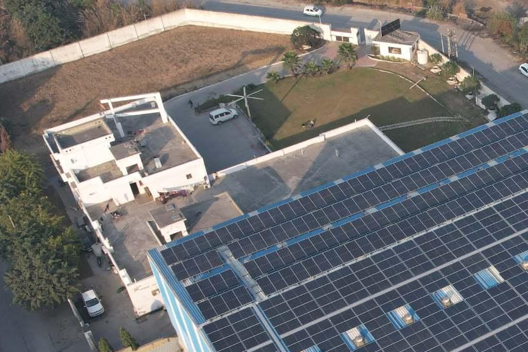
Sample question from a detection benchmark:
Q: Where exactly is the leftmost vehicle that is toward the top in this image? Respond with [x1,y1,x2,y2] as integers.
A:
[207,105,241,125]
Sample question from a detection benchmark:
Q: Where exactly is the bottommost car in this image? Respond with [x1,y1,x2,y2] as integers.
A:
[80,285,104,314]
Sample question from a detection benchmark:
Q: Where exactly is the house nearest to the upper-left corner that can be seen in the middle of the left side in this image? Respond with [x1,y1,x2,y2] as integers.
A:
[42,91,210,229]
